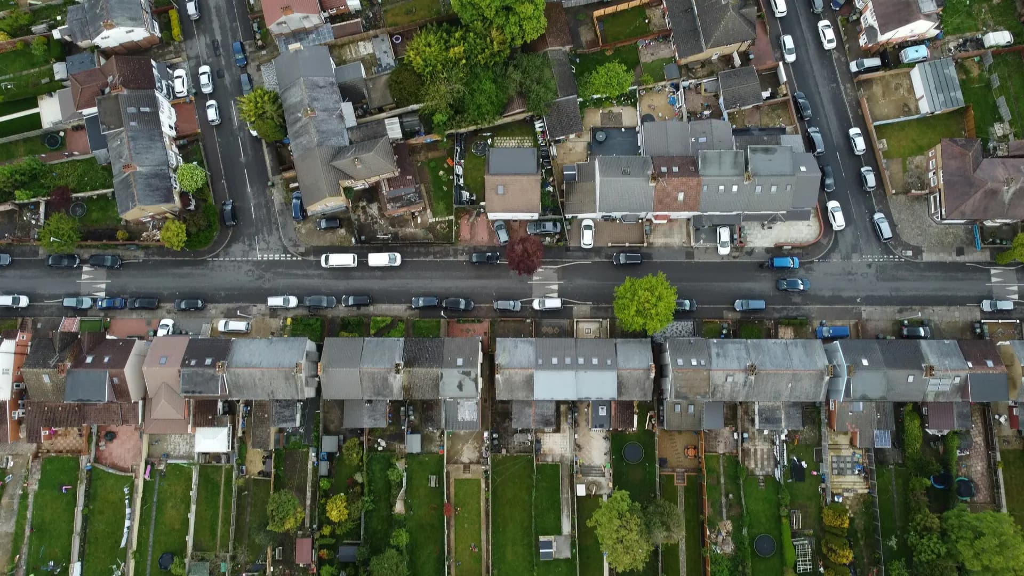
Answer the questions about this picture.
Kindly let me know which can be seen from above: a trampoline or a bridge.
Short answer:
trampoline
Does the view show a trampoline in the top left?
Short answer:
Yes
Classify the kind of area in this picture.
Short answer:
residential area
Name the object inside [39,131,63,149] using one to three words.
trampoline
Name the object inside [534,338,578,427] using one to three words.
house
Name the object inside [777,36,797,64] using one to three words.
car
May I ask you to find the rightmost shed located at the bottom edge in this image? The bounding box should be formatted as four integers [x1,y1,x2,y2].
[539,538,553,561]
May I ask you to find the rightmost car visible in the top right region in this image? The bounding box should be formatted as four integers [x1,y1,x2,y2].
[979,30,1012,49]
